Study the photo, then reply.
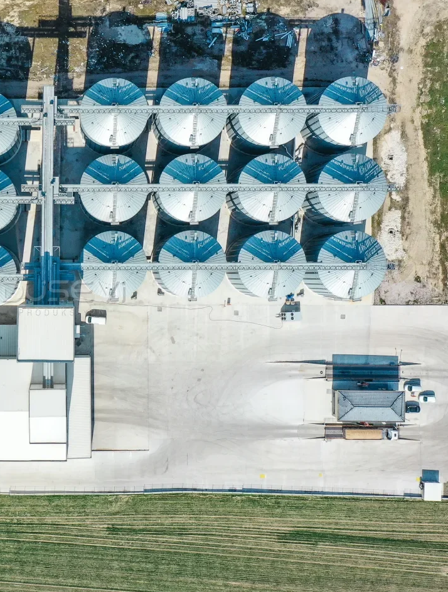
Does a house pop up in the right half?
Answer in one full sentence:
Yes, a house is visible in the right half.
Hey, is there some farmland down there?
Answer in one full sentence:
Yes, farmland shows up in the scene.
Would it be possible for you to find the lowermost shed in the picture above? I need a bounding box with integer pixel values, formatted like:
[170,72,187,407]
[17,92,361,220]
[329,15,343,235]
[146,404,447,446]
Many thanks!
[421,481,442,500]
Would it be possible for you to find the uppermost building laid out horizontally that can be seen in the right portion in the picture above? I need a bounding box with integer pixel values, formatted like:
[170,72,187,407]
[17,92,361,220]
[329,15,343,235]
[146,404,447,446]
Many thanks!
[333,390,407,423]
